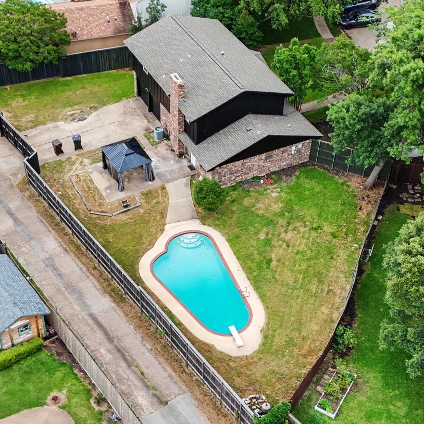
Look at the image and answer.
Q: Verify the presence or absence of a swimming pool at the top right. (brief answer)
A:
No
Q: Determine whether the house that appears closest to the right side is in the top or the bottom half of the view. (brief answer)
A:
top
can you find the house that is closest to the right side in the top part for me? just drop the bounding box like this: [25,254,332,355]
[124,15,323,190]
